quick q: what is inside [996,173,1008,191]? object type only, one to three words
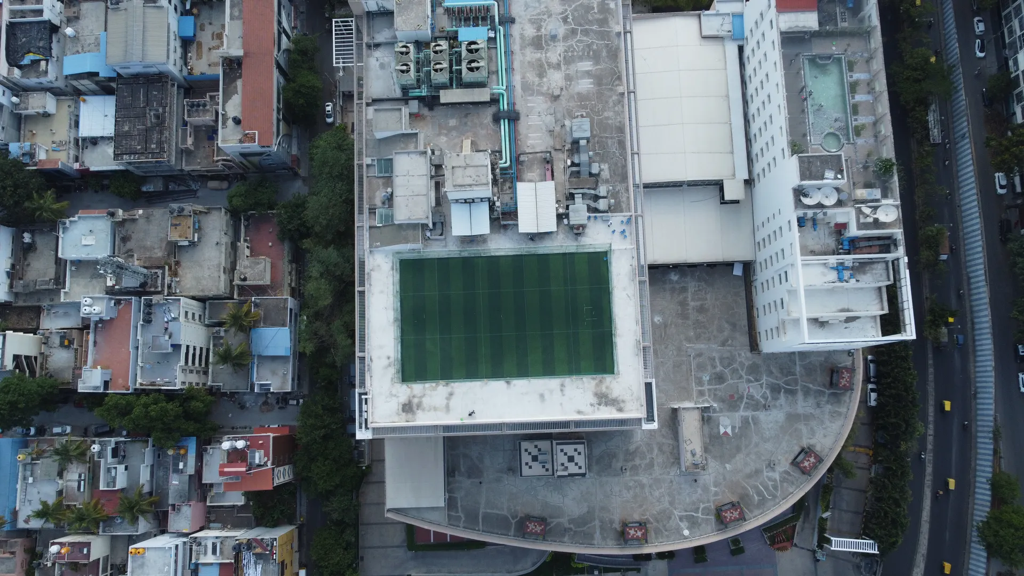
vehicle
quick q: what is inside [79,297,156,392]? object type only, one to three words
house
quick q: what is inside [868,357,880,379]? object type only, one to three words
vehicle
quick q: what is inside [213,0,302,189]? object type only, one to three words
house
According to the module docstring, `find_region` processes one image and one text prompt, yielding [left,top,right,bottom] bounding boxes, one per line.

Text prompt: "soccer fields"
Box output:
[400,251,615,382]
